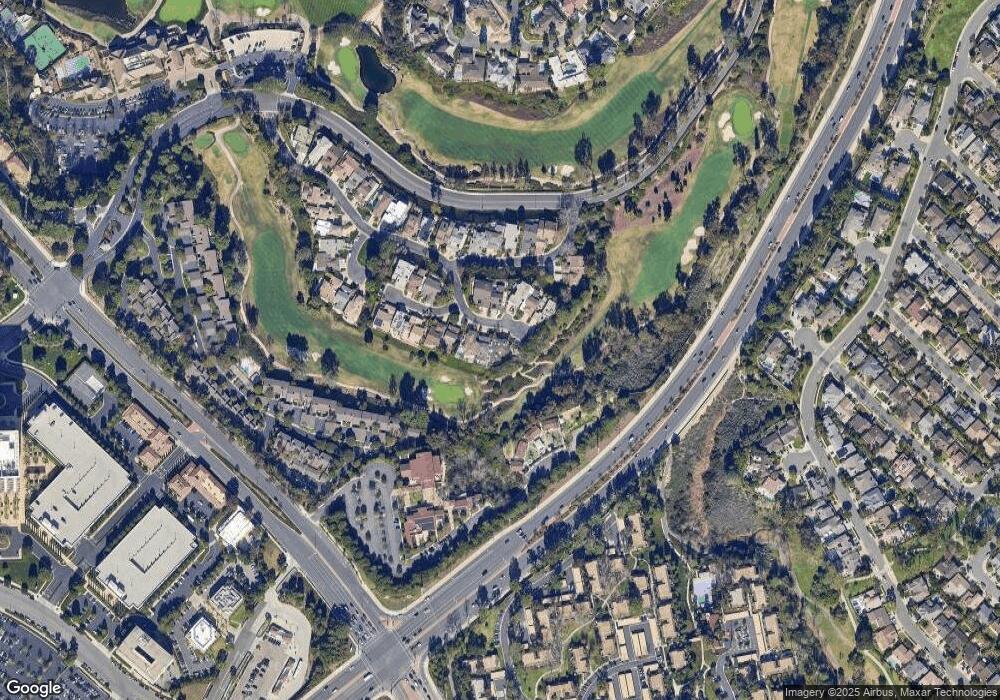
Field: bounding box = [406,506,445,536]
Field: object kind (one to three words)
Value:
building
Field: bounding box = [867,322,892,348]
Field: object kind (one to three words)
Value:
house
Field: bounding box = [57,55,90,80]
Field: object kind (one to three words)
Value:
sports court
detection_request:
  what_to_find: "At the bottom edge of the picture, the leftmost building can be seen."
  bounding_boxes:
[116,626,175,684]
